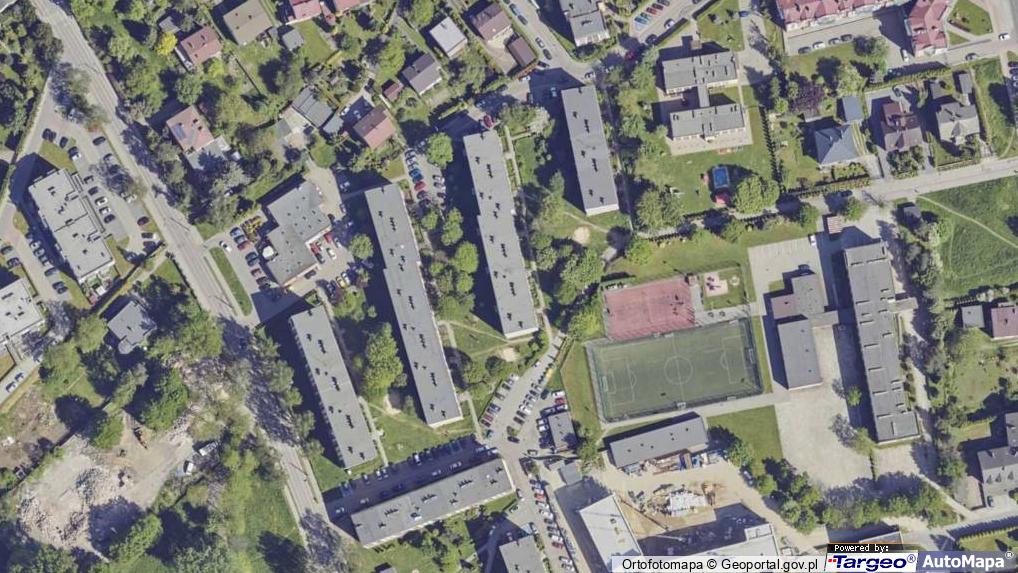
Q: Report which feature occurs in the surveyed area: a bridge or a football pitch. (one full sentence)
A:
This aerial view contains a football pitch.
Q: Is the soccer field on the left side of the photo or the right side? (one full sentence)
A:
The soccer field is on the right side of the image.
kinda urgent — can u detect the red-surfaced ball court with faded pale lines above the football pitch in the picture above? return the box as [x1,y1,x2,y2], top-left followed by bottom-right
[603,276,695,340]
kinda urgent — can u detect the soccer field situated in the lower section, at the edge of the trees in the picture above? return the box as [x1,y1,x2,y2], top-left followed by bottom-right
[593,314,763,422]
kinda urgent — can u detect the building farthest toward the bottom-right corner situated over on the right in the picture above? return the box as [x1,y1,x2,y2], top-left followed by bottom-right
[977,447,1018,495]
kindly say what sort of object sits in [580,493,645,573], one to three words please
building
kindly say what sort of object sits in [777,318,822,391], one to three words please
building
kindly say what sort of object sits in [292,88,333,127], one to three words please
shed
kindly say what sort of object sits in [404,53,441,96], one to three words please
house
